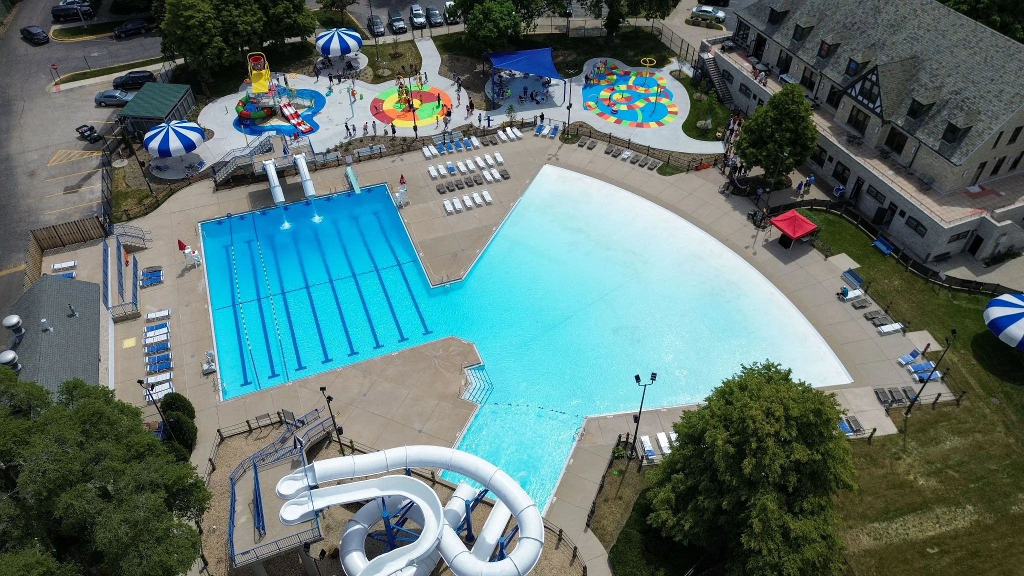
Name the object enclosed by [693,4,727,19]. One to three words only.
car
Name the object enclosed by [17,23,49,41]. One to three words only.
car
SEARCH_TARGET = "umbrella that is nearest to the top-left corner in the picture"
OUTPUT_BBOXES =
[144,124,204,167]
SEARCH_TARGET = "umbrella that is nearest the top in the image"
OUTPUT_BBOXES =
[315,32,362,67]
